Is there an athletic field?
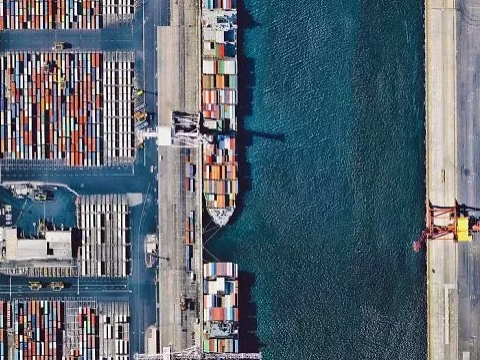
No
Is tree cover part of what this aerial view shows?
No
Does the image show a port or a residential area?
port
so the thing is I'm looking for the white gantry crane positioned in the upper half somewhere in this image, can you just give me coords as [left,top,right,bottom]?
[140,113,208,152]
